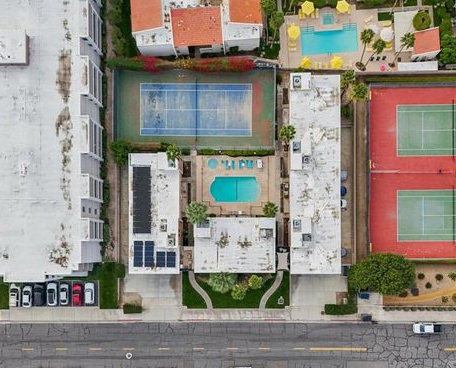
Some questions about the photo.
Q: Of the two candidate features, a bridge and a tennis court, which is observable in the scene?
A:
tennis court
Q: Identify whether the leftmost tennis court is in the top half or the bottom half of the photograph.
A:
top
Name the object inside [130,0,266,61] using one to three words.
building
